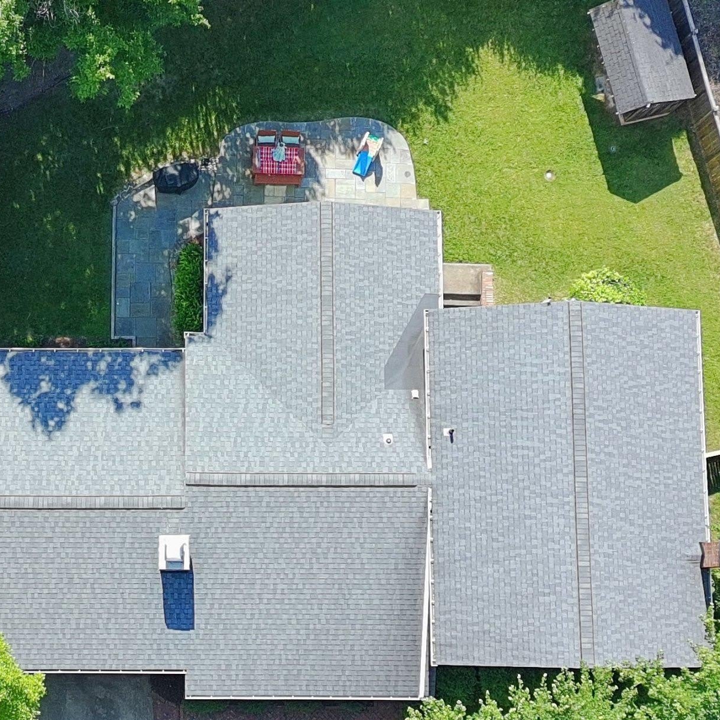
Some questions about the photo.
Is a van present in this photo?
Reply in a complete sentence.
No, there is no van in the image.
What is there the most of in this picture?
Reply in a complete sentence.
What you mostly see from above here is buildings.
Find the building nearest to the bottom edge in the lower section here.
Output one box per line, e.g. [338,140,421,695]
[0,201,720,703]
